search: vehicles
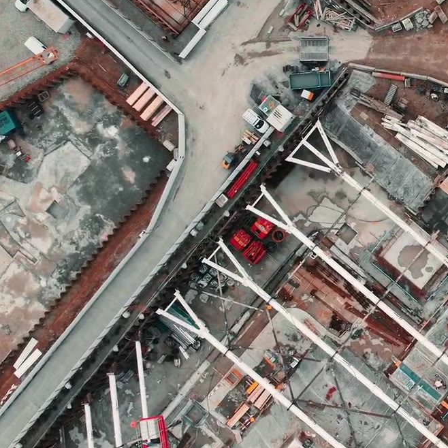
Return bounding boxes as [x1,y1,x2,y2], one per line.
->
[16,0,31,12]
[24,34,59,56]
[218,142,252,169]
[239,104,275,138]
